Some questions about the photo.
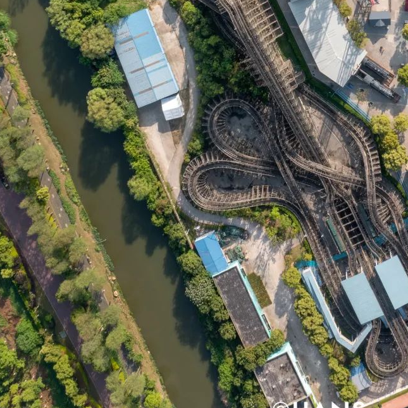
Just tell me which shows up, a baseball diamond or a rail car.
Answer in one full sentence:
The one in the frame is a rail car.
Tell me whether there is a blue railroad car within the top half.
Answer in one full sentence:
No, I can find no blue railroad car within the top half.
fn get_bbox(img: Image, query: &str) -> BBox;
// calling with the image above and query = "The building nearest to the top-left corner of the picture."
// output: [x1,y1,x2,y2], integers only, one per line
[107,8,180,107]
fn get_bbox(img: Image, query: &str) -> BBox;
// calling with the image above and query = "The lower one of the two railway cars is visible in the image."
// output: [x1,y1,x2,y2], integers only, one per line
[356,71,401,102]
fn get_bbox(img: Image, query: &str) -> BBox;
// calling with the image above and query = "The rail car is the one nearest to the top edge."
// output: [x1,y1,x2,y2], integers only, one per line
[364,56,394,79]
